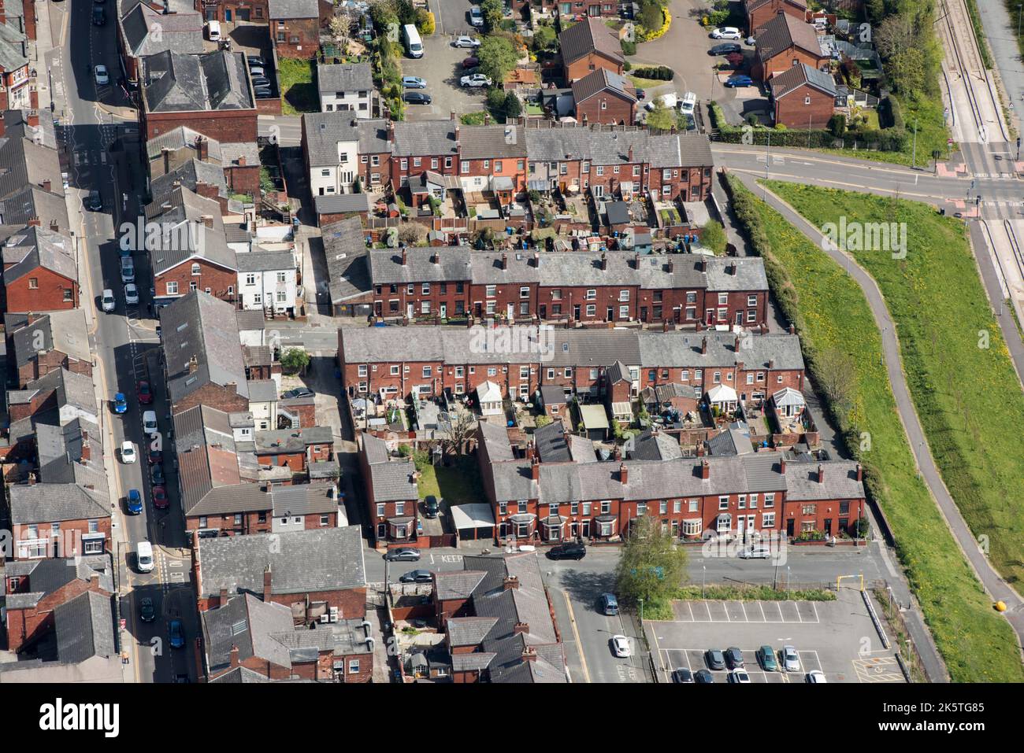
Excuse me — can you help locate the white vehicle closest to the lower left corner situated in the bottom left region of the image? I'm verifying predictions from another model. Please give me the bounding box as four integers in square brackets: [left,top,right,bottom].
[137,539,155,570]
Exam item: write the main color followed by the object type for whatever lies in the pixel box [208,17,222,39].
white vehicle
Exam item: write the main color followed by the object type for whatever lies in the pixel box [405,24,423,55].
white vehicle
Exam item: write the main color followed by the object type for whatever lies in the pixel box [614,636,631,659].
white car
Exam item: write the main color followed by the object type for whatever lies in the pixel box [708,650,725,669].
gray car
